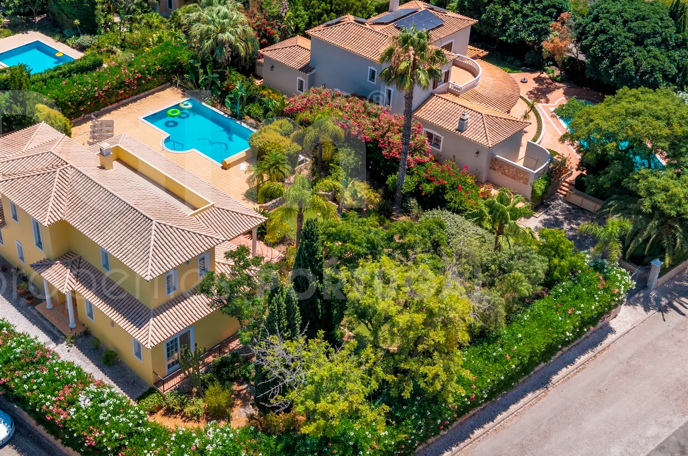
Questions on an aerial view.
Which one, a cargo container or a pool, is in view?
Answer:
pool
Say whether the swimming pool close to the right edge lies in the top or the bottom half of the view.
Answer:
top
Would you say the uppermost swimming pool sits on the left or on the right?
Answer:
left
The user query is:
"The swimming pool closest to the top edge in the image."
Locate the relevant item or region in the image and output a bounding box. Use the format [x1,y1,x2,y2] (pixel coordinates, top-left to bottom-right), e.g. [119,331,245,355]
[0,37,77,73]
